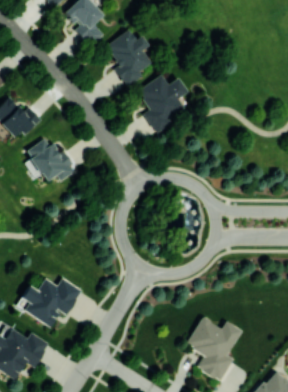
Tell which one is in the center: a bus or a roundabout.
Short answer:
roundabout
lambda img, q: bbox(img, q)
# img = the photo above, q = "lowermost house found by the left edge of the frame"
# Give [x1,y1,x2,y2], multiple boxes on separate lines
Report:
[0,328,50,382]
